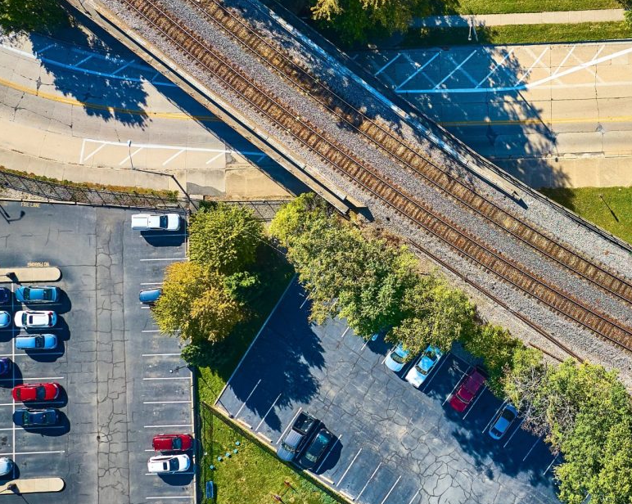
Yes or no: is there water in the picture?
No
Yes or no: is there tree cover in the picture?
Yes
